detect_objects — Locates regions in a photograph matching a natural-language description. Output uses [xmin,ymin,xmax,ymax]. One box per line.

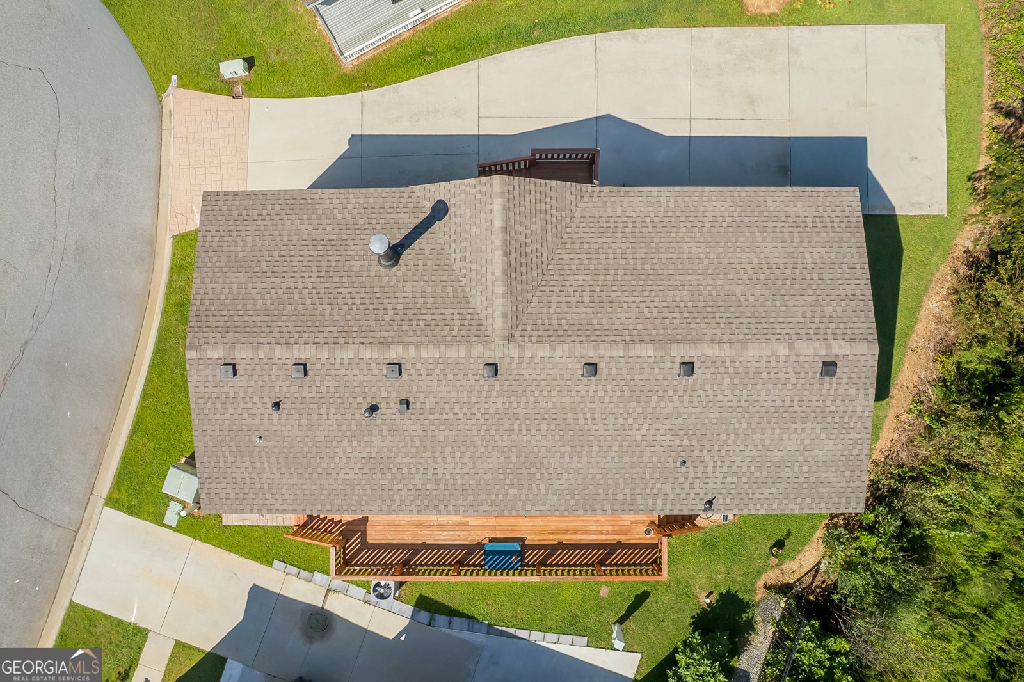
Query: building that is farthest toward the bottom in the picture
[184,174,879,517]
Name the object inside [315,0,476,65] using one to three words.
shed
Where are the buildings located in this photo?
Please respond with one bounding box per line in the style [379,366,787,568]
[184,174,879,517]
[315,0,476,65]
